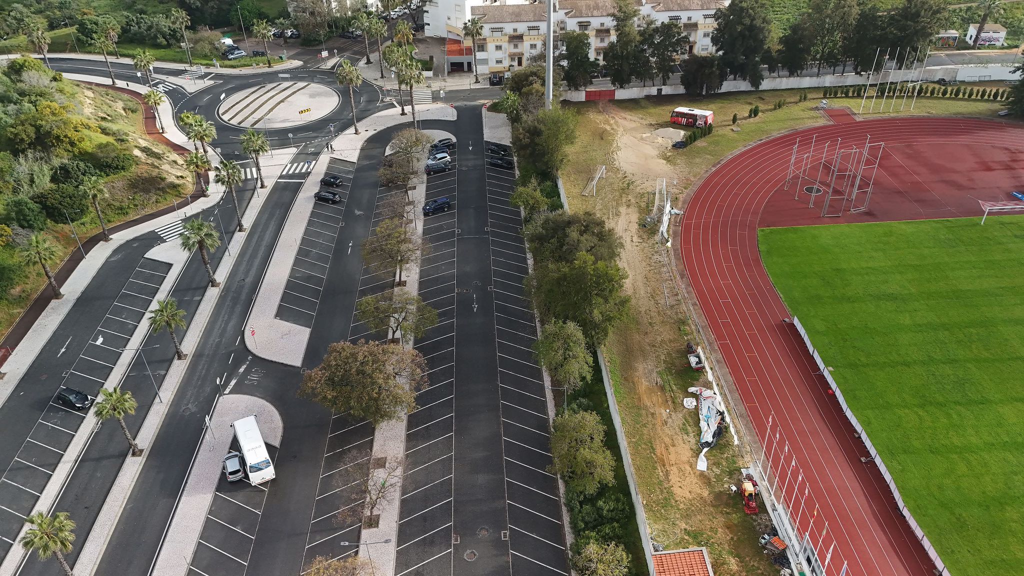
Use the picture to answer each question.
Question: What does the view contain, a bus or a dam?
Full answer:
There is a bus in the scene.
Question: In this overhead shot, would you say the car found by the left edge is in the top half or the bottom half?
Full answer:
The car found by the left edge is in the bottom half of the image.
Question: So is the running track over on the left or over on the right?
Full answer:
The running track sits on the right side.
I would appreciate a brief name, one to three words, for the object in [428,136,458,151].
car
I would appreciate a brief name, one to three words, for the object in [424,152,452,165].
vehicle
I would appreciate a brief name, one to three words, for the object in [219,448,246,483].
car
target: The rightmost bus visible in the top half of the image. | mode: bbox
[667,103,714,127]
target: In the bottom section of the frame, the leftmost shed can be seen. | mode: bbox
[651,545,716,576]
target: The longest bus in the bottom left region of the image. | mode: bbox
[229,413,280,491]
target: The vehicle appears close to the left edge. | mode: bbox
[50,384,93,411]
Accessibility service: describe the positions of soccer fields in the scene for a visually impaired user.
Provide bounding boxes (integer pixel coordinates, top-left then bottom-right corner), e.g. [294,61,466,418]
[762,214,1024,576]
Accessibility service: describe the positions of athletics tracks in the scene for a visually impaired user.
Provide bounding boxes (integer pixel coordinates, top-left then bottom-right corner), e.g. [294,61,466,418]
[667,106,1024,576]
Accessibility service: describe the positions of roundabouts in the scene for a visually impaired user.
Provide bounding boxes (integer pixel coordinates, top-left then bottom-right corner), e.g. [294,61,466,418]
[218,81,338,128]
